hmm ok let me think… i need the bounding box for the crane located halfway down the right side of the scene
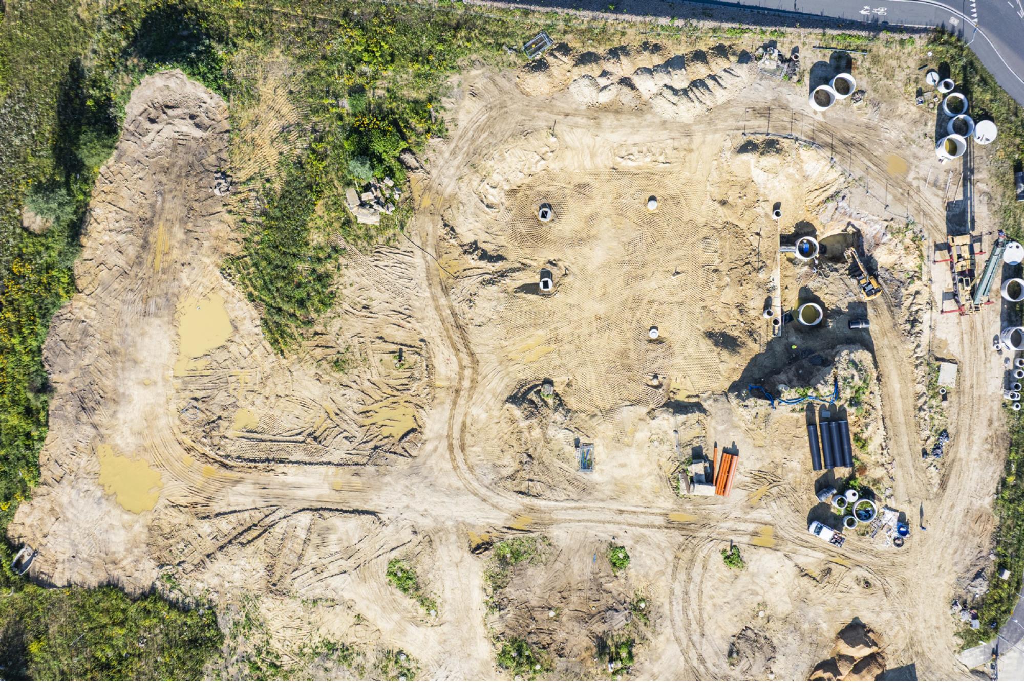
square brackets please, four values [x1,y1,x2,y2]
[934,231,1006,310]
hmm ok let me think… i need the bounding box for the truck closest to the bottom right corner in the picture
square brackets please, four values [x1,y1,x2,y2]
[807,520,849,551]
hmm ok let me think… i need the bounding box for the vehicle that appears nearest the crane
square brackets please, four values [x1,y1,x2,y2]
[842,245,884,304]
